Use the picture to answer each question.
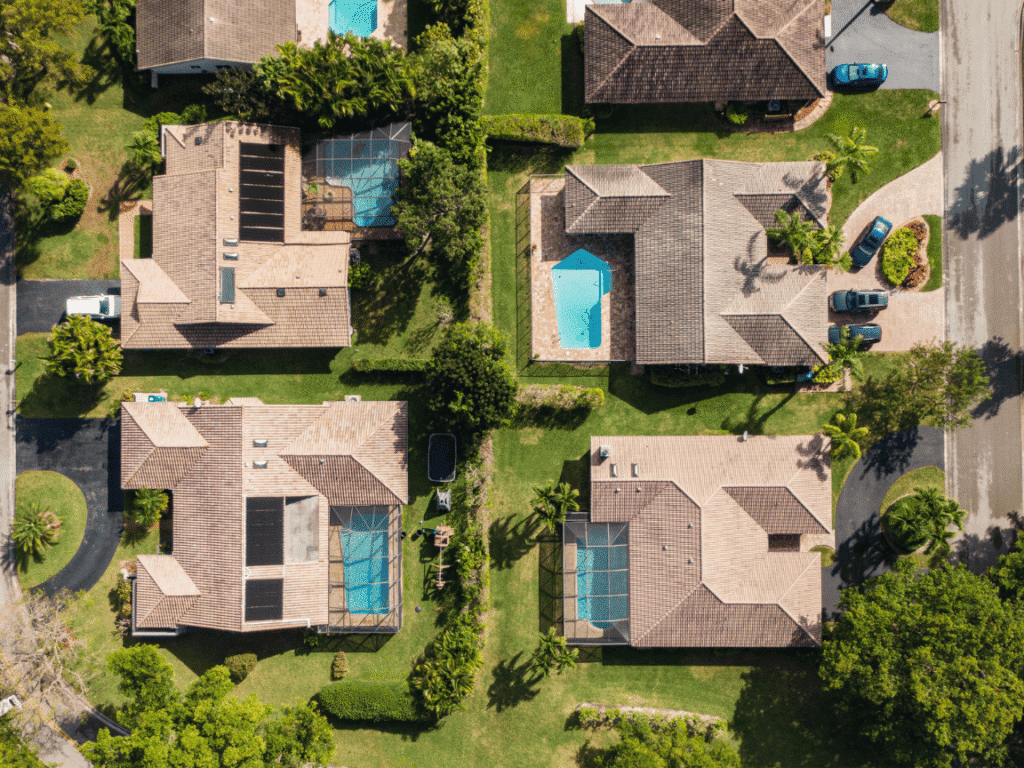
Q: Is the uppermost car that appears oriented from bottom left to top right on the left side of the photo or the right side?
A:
right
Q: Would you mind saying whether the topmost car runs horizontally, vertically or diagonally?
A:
horizontally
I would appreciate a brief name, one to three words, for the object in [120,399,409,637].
house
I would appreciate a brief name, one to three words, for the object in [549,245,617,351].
swimming pool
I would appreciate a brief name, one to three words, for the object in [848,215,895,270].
car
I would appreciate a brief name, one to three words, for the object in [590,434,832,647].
house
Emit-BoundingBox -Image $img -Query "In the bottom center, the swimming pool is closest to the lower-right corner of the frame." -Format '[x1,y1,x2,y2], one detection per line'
[574,523,629,632]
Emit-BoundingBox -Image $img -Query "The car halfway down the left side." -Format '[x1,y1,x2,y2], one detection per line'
[65,291,121,320]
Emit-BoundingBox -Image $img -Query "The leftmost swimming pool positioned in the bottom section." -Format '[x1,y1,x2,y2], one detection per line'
[338,510,391,617]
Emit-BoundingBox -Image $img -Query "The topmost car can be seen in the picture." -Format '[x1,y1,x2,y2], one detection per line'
[828,60,888,90]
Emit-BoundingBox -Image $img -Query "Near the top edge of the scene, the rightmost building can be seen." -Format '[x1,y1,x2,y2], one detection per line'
[584,0,832,115]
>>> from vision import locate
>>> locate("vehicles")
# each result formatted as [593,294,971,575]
[828,287,890,315]
[828,321,882,346]
[828,60,888,90]
[65,291,121,320]
[848,215,895,270]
